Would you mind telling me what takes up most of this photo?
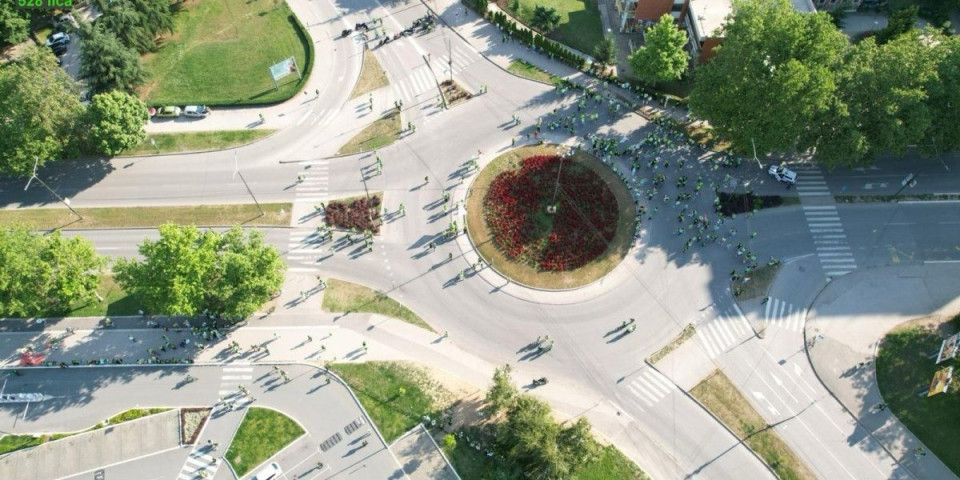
paved ground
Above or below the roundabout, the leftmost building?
above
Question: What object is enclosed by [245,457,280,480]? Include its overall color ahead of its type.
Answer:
white car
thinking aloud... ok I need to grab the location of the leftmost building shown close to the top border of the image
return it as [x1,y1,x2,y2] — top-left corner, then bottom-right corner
[617,0,683,34]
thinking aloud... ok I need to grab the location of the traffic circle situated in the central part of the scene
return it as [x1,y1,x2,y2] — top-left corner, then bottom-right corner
[452,132,650,303]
